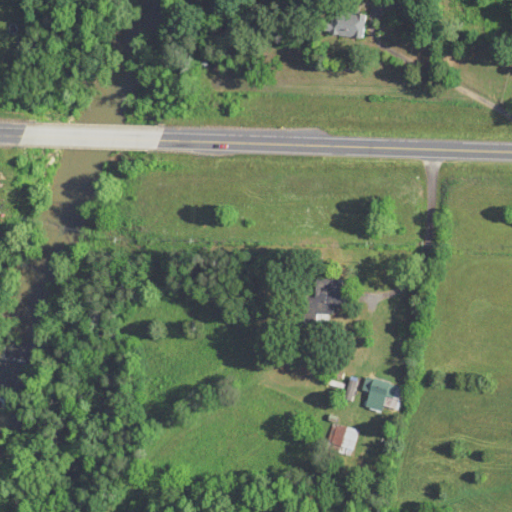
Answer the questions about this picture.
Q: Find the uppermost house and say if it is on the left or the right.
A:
right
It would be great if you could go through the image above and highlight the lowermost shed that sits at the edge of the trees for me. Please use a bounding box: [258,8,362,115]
[328,425,358,456]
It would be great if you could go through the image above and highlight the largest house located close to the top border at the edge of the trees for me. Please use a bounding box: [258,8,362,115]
[326,14,368,40]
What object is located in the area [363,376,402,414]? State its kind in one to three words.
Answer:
barn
